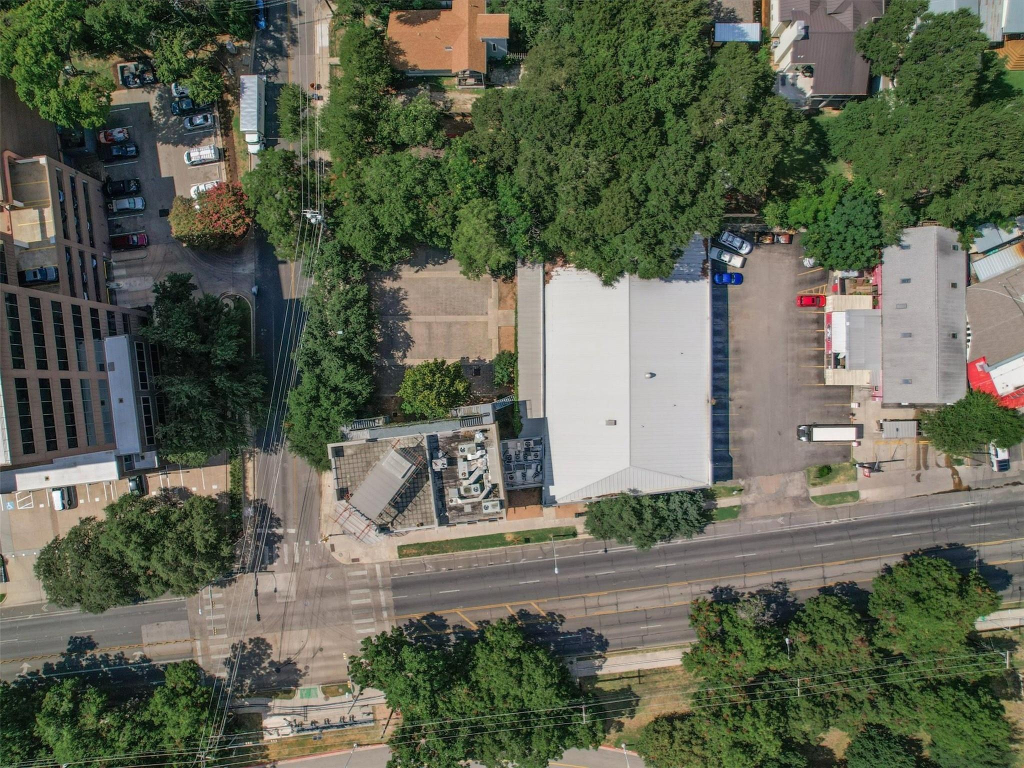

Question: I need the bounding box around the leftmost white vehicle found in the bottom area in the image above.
[49,486,69,514]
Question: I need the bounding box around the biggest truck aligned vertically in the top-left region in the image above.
[240,75,265,157]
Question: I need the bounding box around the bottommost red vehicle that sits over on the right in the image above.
[795,294,825,308]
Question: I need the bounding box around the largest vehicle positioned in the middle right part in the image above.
[788,423,856,441]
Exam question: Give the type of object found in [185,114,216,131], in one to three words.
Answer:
car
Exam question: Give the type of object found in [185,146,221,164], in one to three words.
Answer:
vehicle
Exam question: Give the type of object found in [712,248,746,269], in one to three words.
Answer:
truck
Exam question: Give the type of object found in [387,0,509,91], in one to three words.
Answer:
house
